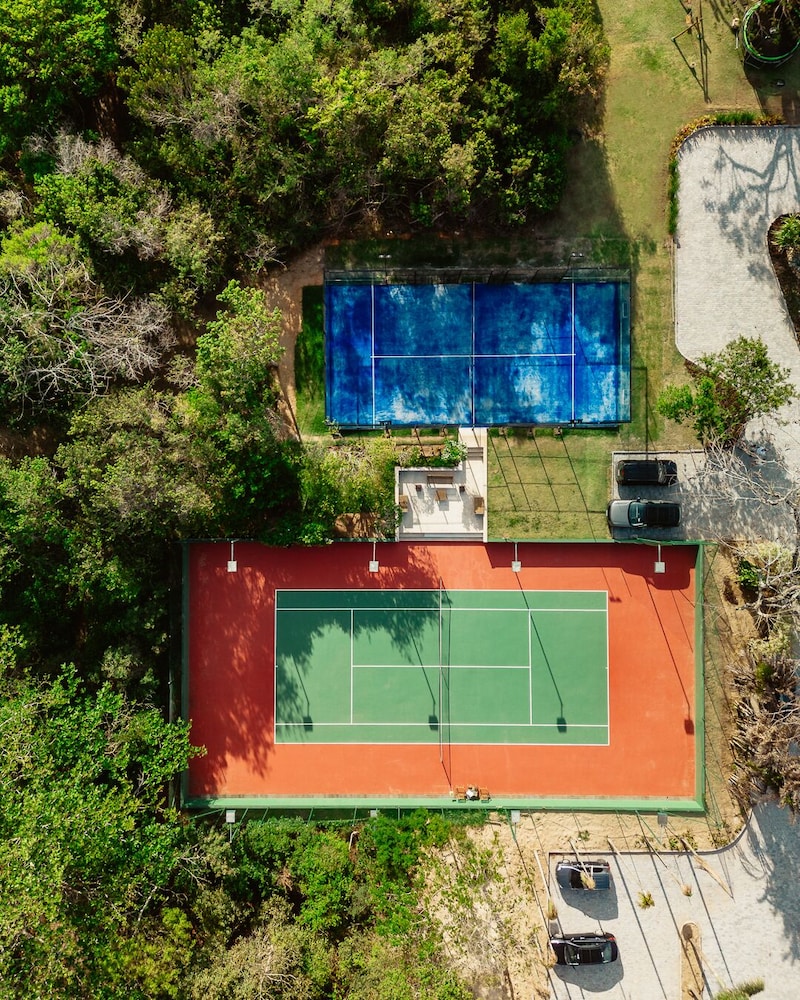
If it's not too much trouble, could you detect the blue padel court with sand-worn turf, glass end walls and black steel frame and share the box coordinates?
[322,268,632,438]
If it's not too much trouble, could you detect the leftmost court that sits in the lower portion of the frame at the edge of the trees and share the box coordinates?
[189,541,695,797]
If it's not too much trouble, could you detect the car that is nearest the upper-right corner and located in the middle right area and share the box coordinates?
[613,457,678,489]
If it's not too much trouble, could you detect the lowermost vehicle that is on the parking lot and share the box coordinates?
[550,930,619,970]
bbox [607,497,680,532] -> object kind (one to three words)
car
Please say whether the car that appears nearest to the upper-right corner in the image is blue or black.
black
